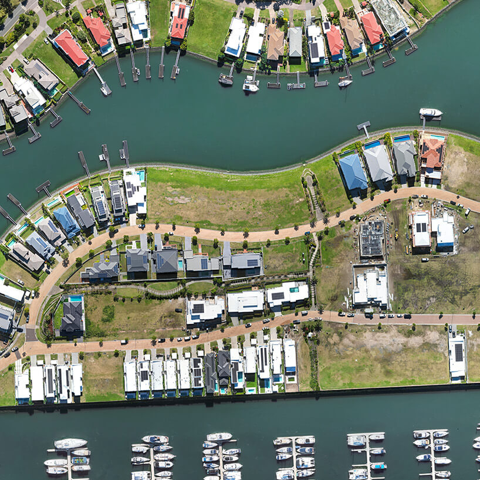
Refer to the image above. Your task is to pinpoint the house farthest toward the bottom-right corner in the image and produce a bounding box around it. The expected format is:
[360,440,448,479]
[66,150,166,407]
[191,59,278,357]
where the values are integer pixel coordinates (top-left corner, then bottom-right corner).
[449,338,465,377]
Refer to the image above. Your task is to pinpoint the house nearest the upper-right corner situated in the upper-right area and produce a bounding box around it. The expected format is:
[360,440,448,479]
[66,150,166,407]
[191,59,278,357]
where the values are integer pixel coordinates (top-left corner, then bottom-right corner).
[360,11,385,46]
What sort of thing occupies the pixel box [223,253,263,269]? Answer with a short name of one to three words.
house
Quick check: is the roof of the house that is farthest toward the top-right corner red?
Yes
